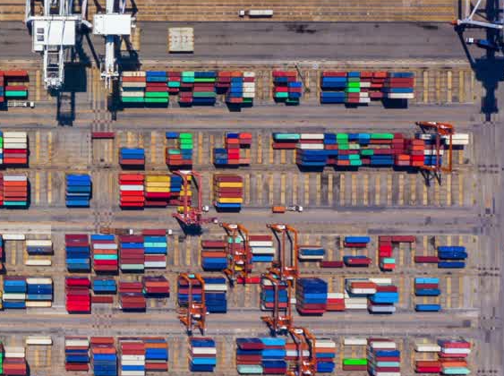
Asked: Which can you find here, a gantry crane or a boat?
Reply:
gantry crane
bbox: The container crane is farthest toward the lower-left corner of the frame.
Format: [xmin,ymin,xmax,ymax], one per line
[174,267,206,326]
